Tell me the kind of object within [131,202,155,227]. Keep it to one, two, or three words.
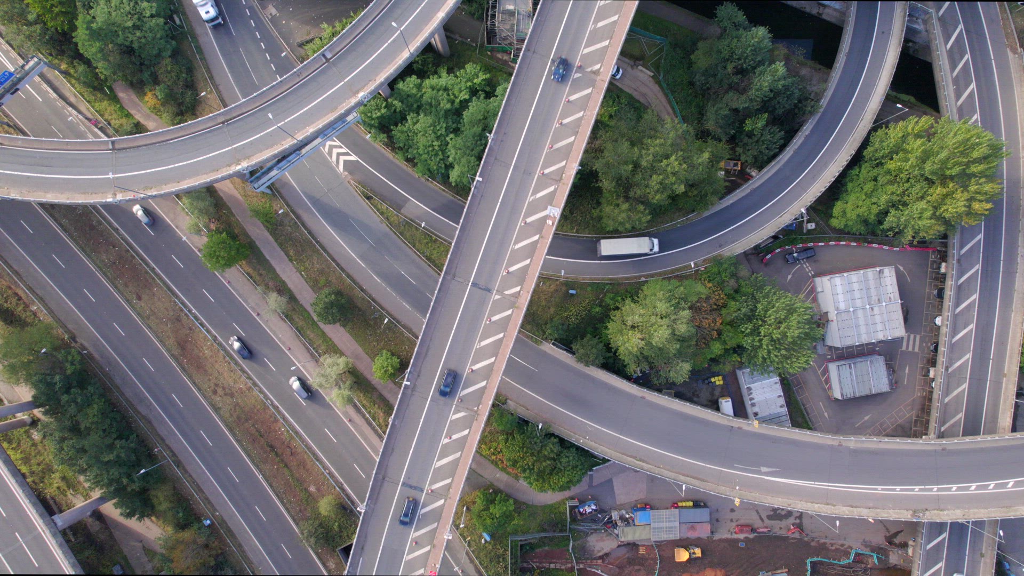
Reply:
car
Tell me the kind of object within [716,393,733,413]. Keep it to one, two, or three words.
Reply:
vehicle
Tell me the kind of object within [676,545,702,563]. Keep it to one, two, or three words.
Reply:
vehicle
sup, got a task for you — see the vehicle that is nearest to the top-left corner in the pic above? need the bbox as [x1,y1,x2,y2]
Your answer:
[193,0,227,34]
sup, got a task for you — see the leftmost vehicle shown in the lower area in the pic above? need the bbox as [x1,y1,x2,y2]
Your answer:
[229,334,253,359]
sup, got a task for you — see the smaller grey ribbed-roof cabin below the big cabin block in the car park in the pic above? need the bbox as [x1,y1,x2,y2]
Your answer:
[827,355,891,400]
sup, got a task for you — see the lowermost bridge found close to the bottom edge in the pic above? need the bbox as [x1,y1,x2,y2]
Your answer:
[0,433,93,576]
